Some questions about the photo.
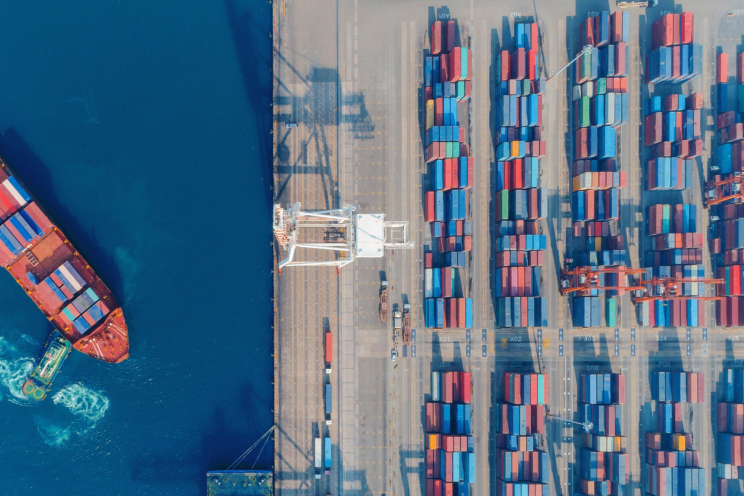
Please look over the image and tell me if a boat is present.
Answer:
Yes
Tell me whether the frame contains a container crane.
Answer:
Yes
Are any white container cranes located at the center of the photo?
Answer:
Yes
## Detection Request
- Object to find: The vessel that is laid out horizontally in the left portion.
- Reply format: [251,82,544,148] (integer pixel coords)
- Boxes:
[207,469,273,496]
